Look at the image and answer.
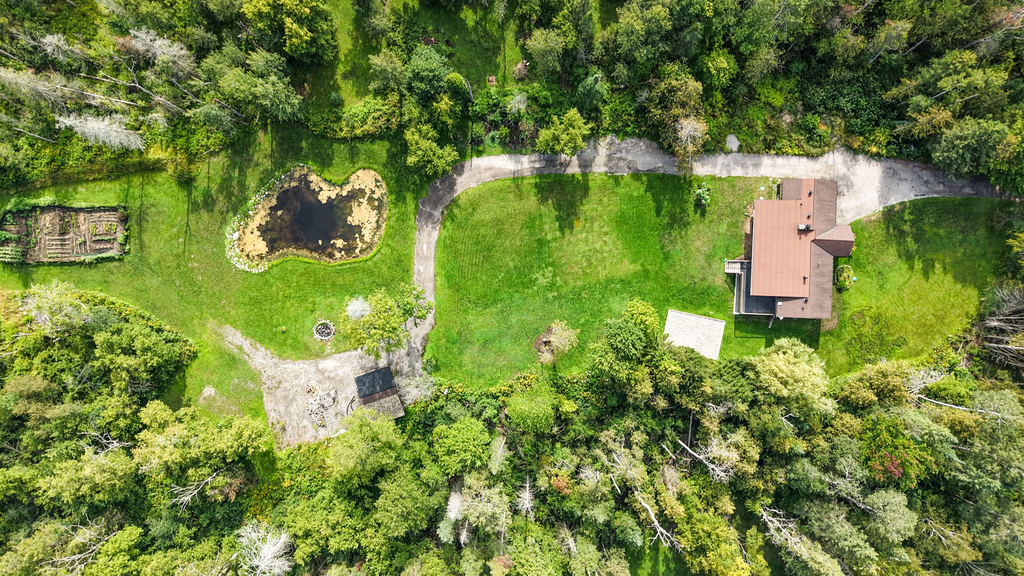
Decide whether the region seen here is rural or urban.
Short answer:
rural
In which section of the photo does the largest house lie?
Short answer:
right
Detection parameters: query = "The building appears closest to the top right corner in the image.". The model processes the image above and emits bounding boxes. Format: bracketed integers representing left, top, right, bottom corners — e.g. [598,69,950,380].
[740,179,854,319]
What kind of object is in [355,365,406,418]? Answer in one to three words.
shed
